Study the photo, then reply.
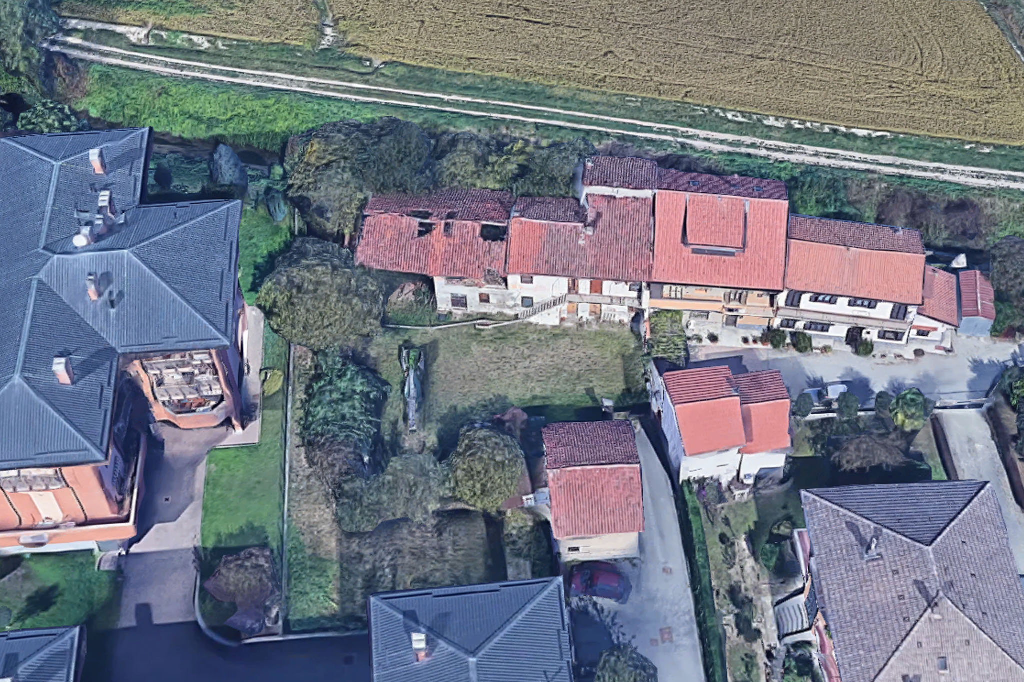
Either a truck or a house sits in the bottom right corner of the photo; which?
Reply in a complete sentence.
The feature located in the bottom right corner of the photo is a house.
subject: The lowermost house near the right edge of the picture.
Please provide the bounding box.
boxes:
[786,479,1024,682]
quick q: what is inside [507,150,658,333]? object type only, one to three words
house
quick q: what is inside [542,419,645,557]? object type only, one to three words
building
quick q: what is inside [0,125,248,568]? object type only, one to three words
building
